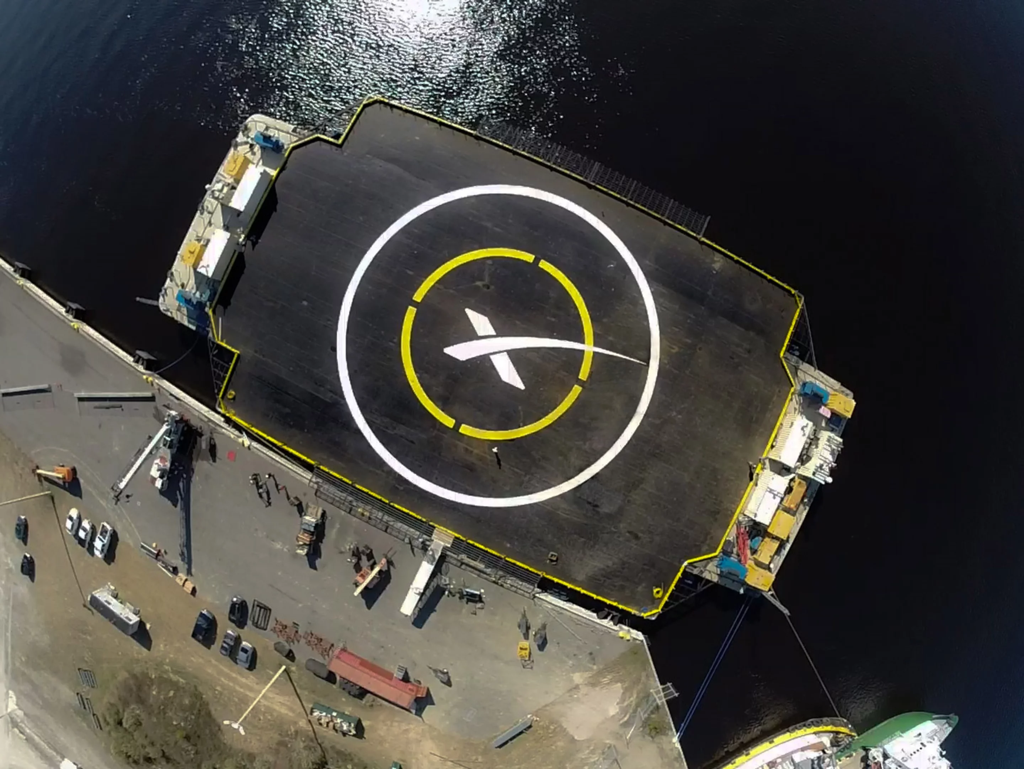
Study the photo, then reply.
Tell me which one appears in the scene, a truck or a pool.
truck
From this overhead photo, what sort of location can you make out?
port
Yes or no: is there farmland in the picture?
No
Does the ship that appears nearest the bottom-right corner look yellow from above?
No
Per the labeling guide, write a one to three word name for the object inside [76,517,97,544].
car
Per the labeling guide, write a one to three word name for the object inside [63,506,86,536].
car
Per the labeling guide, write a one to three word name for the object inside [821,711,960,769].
ship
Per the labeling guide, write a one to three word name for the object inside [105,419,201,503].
truck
